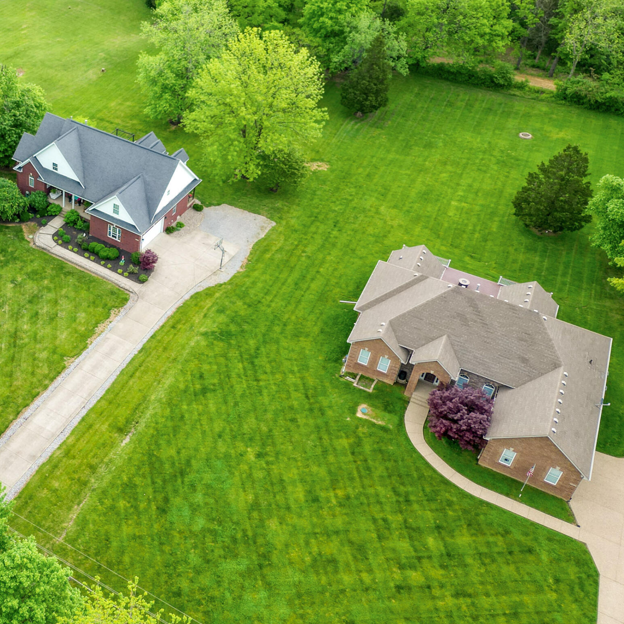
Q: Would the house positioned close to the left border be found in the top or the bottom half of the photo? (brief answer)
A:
top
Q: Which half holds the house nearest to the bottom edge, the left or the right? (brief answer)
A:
right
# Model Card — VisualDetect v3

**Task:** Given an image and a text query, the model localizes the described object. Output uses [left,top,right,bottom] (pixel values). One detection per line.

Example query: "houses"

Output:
[346,244,619,502]
[12,114,204,252]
